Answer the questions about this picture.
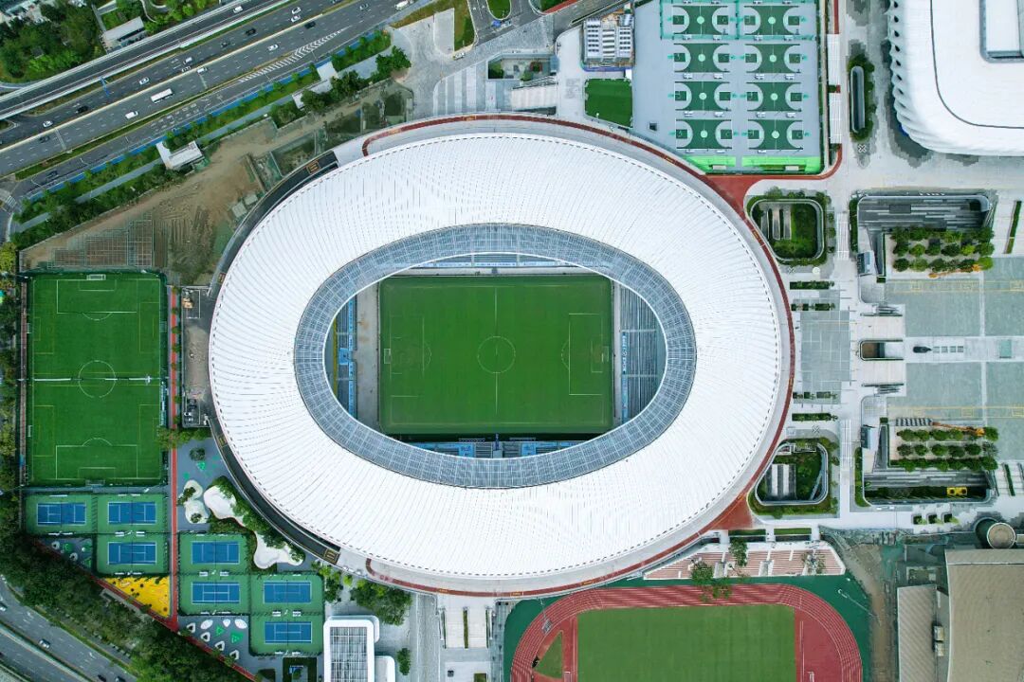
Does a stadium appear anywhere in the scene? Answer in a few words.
Yes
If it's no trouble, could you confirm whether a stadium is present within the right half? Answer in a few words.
Yes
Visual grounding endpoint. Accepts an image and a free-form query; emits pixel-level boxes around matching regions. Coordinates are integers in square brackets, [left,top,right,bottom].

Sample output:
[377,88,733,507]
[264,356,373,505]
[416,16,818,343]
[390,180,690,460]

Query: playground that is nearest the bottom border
[178,617,259,677]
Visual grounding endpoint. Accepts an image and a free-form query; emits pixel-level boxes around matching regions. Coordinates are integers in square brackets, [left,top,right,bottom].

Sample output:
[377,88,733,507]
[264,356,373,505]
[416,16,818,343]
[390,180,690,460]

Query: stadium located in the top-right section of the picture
[891,0,1024,152]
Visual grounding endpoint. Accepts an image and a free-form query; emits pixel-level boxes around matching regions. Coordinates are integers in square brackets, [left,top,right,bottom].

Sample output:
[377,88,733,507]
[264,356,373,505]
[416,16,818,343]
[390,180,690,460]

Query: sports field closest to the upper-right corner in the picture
[585,78,632,127]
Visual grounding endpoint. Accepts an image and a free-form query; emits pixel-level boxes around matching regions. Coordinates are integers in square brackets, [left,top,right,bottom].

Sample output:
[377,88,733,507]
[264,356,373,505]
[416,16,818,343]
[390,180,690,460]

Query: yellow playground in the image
[104,576,170,619]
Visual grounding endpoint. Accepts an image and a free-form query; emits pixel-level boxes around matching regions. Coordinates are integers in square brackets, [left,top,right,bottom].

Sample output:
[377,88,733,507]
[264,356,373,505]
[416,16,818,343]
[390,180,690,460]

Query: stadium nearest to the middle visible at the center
[210,132,779,579]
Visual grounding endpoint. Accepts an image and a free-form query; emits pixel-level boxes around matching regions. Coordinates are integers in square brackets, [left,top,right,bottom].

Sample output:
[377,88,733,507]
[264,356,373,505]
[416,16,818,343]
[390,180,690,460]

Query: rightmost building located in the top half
[854,251,873,275]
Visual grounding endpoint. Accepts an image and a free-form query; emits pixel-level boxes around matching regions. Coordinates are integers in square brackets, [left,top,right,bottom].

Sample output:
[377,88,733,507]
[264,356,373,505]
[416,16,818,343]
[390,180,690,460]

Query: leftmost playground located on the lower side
[39,536,92,572]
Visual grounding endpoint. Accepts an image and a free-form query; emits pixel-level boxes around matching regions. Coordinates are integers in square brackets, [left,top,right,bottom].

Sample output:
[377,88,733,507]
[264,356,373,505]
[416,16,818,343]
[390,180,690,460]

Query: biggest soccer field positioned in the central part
[378,275,612,434]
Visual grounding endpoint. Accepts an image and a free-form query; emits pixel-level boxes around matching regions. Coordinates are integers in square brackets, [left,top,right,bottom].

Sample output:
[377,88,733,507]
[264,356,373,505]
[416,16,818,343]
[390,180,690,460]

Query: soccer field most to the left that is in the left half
[25,273,162,486]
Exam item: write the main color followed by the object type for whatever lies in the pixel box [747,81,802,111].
green basketball court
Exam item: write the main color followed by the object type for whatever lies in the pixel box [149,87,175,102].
white vehicle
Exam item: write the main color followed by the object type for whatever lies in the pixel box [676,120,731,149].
green basketball court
